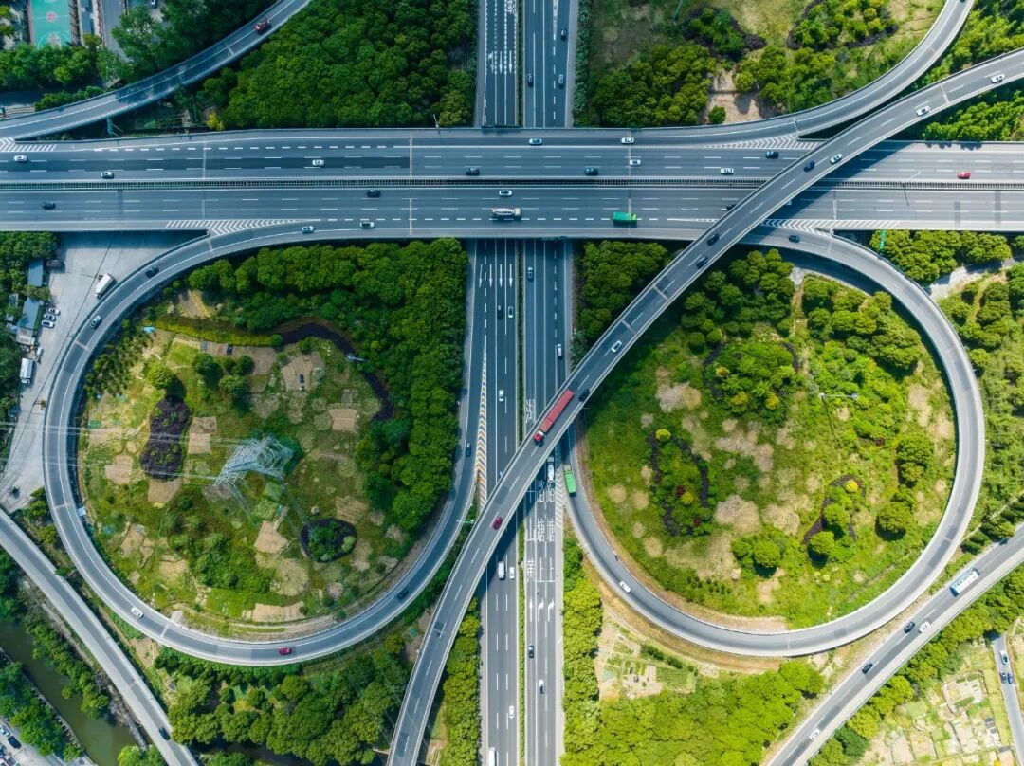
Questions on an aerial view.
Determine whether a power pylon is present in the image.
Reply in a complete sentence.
Yes, a power pylon appears in the view.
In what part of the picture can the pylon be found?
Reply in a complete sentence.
Look in the left portion of the view to spot the pylon.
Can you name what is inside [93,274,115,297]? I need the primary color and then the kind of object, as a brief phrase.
white truck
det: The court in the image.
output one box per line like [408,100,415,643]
[27,0,71,46]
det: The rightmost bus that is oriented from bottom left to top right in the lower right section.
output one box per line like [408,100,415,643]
[950,568,981,595]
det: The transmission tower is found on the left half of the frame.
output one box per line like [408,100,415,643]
[217,434,297,492]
